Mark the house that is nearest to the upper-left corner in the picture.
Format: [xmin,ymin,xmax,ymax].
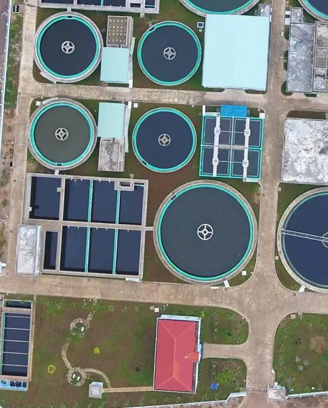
[100,37,136,83]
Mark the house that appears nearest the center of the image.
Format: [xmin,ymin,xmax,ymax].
[97,103,130,150]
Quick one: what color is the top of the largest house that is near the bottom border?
red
